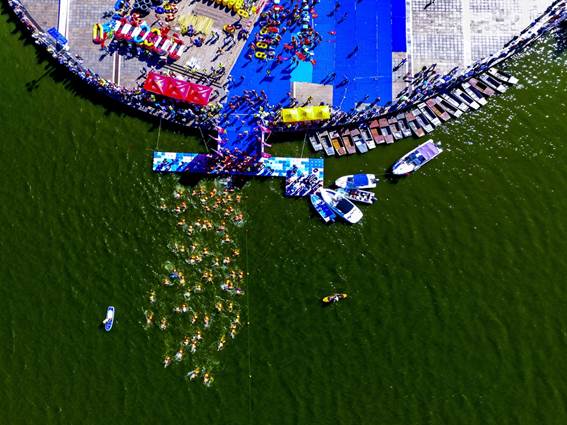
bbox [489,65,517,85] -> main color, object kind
white boat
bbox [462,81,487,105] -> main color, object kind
white boat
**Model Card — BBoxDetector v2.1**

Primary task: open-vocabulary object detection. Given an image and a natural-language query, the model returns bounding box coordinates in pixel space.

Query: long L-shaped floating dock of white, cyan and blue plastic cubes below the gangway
[153,152,326,199]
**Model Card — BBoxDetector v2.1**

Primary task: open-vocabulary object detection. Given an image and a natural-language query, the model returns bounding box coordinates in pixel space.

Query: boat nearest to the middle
[311,194,332,222]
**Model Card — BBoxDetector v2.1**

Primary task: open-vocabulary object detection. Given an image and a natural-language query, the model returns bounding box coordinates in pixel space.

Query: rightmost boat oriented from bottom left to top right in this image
[391,139,441,173]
